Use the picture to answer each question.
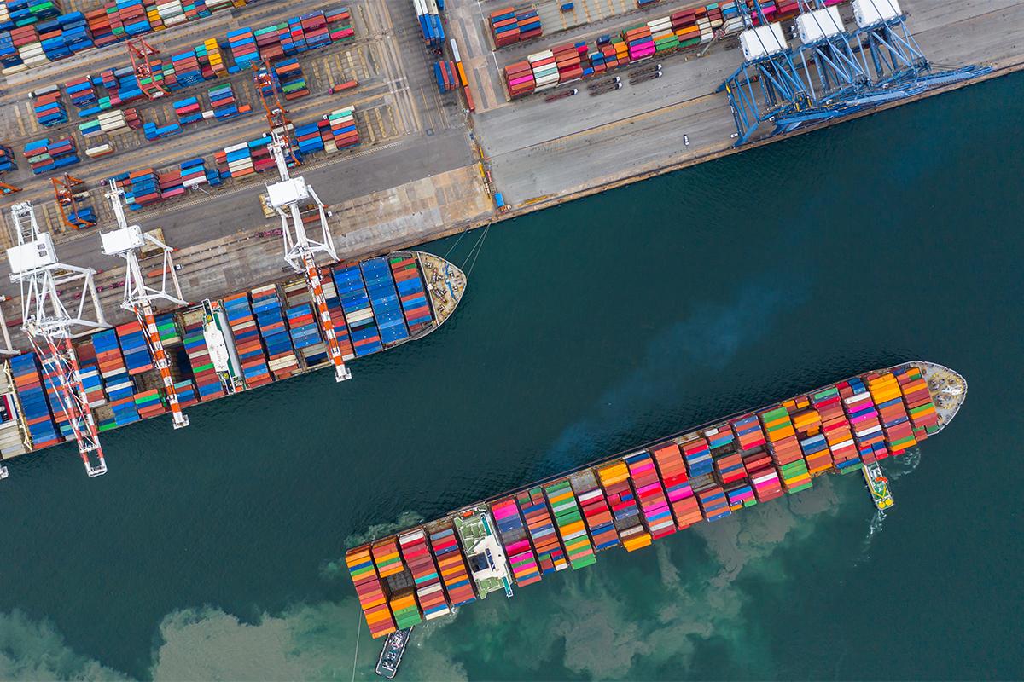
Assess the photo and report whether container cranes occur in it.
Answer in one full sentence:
Yes, the image includes a container crane.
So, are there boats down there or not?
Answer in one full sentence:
Yes, there is a boat in the image.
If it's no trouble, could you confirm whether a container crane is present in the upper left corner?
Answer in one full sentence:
Yes, looking in the upper left corner, one can make out a container crane.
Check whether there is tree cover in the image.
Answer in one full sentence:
No, the scene doesn't show any tree cover.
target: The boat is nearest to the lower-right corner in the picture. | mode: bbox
[866,461,896,514]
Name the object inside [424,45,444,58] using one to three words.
vehicle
